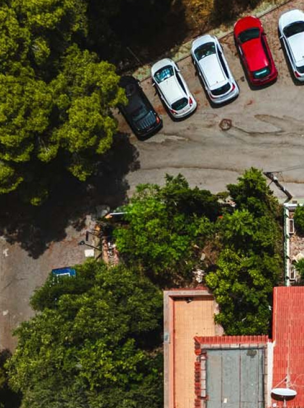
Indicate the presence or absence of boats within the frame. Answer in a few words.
No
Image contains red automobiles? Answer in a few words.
Yes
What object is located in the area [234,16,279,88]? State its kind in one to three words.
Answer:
car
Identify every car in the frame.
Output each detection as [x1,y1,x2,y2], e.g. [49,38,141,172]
[116,73,169,145]
[234,16,279,88]
[150,57,199,123]
[191,34,241,107]
[278,9,304,84]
